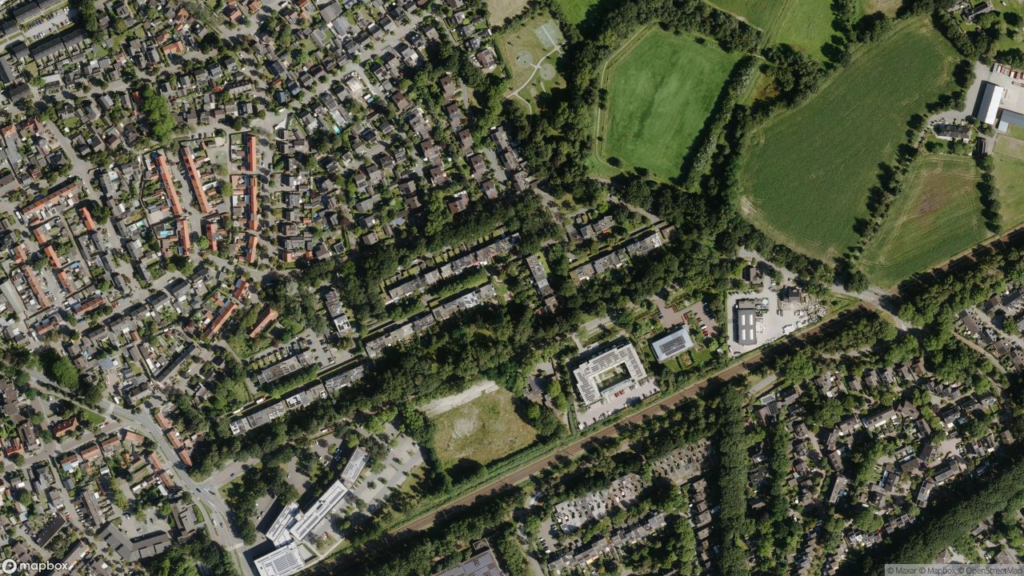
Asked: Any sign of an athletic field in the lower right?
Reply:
No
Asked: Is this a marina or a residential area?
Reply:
residential area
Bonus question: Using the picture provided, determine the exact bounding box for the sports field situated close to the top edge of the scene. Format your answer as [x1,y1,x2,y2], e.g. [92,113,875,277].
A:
[593,19,756,189]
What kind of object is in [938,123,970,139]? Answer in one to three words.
house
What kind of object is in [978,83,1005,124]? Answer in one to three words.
barn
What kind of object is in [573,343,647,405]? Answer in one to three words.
building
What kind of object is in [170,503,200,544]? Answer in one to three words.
house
